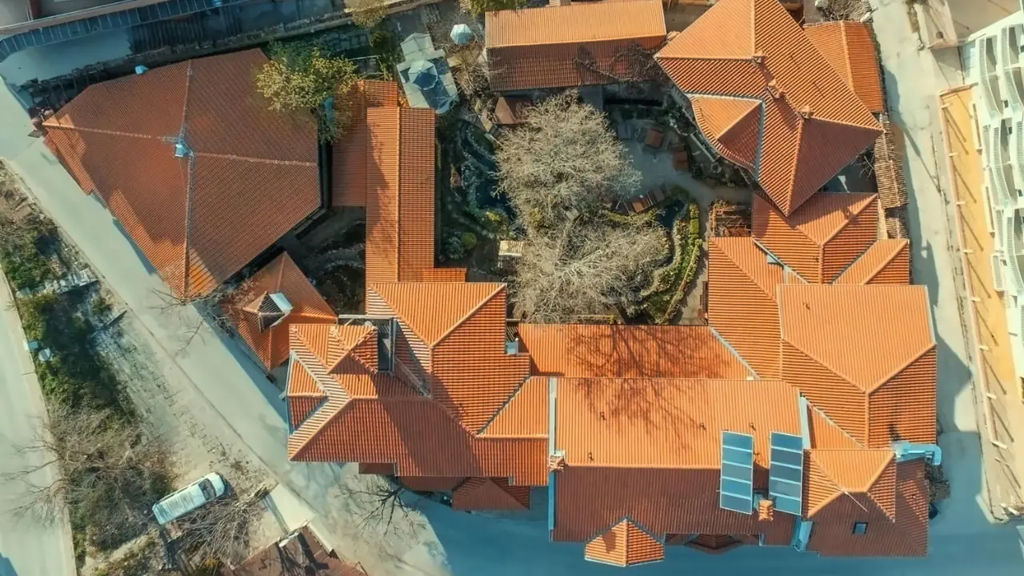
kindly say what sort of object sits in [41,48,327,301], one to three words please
house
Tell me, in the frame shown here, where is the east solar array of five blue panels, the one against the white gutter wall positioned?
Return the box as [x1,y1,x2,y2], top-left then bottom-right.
[763,430,802,515]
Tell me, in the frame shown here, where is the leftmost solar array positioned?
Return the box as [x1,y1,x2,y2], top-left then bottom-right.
[715,430,754,514]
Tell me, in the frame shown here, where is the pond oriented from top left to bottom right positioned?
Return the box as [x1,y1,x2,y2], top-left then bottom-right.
[463,132,518,214]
